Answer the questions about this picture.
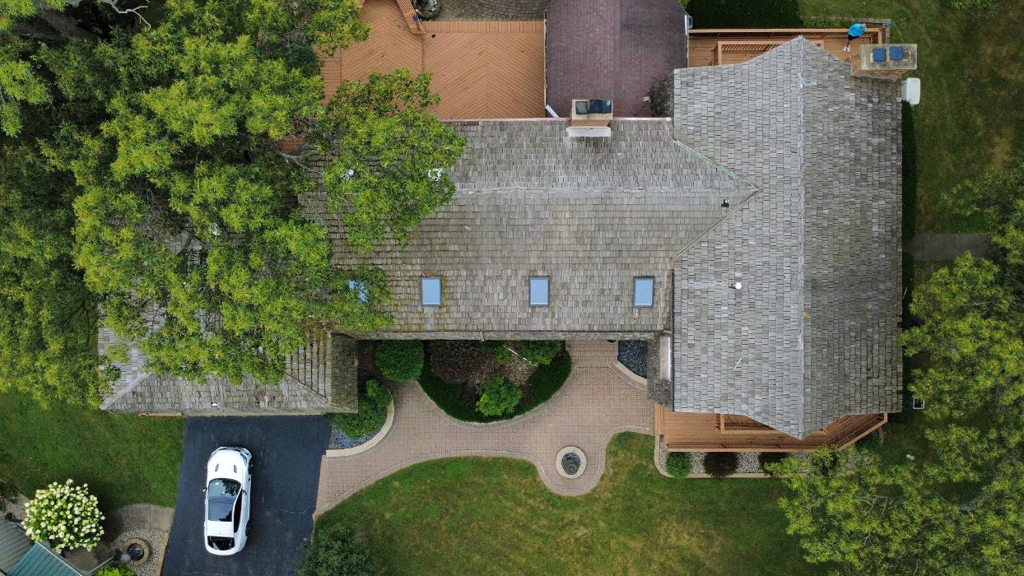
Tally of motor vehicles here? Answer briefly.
1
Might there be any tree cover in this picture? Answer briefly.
Yes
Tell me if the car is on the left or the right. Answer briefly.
left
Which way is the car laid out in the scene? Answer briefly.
up and down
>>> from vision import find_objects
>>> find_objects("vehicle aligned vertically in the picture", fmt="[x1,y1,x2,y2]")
[199,441,255,558]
